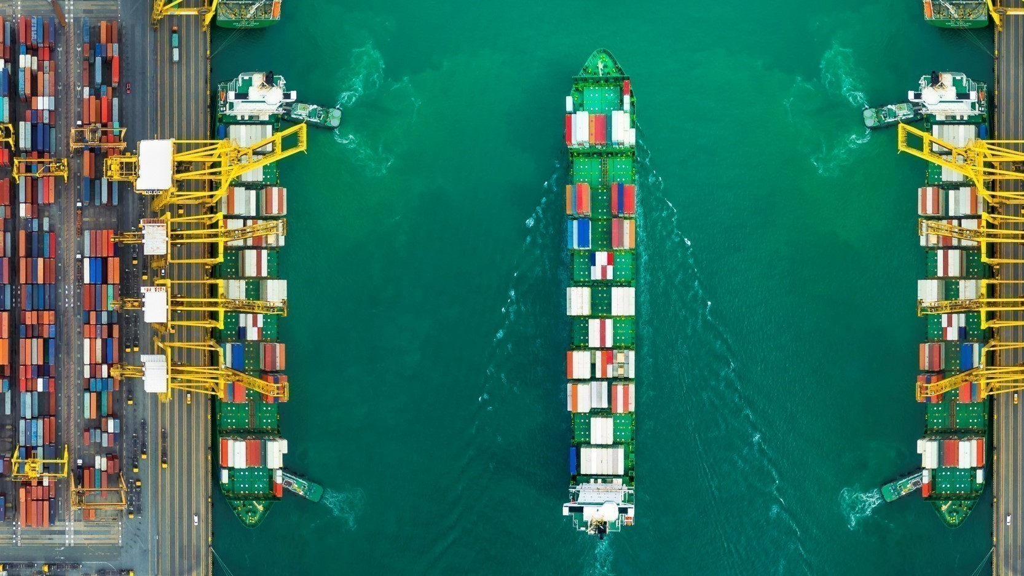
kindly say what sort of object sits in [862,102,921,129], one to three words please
boat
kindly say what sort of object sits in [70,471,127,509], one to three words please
container crane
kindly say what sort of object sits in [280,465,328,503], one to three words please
boat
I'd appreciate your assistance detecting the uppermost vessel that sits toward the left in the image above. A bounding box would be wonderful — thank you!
[217,0,283,31]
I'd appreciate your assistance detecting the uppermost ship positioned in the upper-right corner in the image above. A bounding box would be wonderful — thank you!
[923,0,989,31]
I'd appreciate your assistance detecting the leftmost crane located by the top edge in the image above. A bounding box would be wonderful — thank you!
[152,0,219,35]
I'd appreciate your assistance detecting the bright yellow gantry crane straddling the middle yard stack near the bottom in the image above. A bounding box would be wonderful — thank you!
[11,443,69,480]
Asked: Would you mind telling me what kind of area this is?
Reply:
port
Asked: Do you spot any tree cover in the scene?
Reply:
No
